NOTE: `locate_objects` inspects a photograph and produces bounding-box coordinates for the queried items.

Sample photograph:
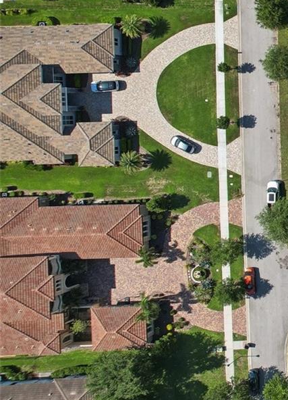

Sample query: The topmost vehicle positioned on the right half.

[169,136,195,154]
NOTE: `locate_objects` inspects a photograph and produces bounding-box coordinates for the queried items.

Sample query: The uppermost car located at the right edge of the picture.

[266,180,279,206]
